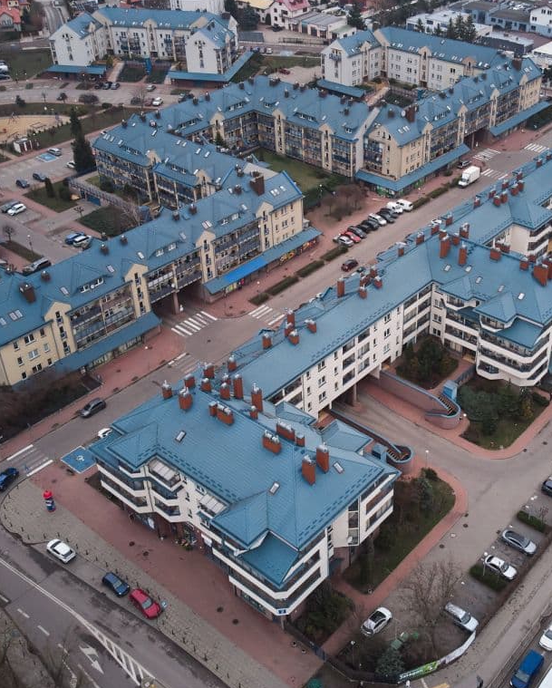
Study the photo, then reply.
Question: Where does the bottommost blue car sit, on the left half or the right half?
right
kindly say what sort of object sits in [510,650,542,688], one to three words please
car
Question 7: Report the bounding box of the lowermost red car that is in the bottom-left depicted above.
[127,587,163,618]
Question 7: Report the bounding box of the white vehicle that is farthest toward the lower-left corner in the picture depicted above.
[45,537,77,564]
